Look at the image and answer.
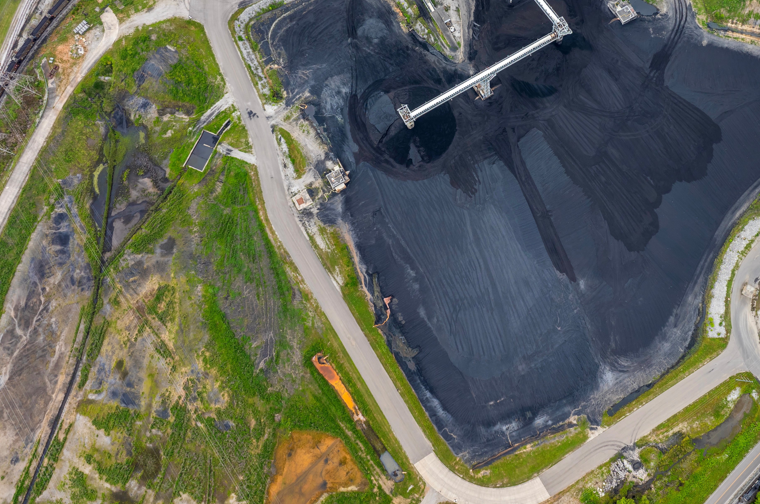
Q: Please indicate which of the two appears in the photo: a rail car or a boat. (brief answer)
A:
rail car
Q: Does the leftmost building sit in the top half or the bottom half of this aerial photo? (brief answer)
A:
top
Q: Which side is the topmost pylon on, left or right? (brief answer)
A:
left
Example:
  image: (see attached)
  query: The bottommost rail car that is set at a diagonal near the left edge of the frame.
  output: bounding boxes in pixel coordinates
[1,60,20,84]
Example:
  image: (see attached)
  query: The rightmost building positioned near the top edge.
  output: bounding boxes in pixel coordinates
[608,0,637,25]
